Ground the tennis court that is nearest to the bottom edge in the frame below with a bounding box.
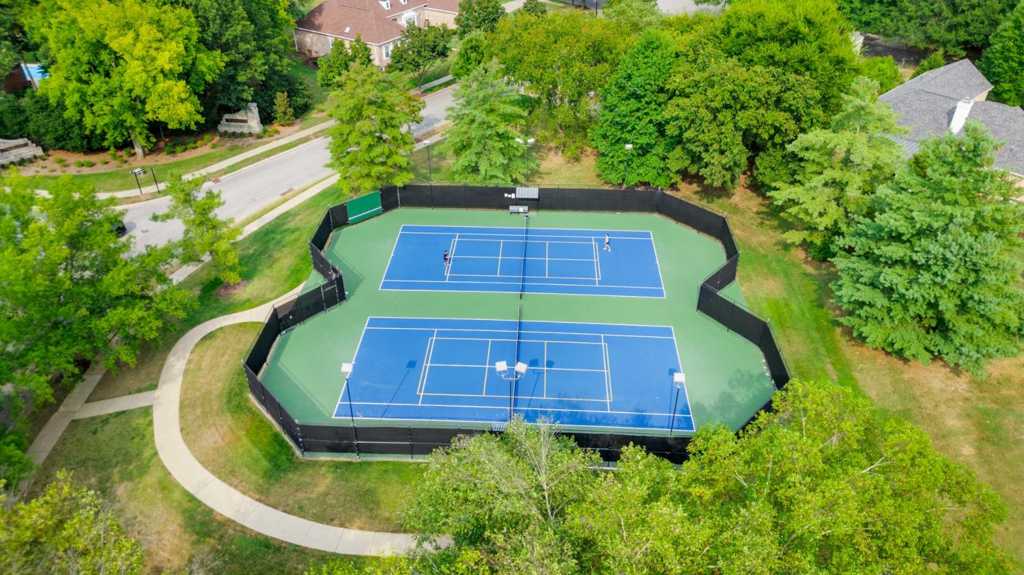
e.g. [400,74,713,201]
[333,316,696,431]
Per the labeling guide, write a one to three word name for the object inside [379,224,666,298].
tennis court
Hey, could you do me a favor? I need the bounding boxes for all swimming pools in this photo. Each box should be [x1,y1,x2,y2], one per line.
[16,63,42,82]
